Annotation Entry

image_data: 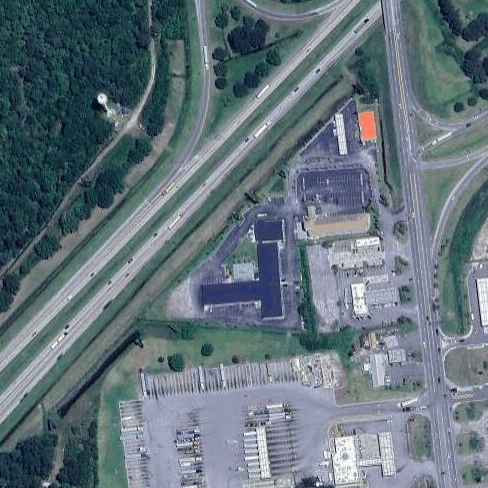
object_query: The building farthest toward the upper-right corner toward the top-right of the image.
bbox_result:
[358,111,377,142]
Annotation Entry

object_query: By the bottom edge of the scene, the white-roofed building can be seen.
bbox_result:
[332,435,359,486]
